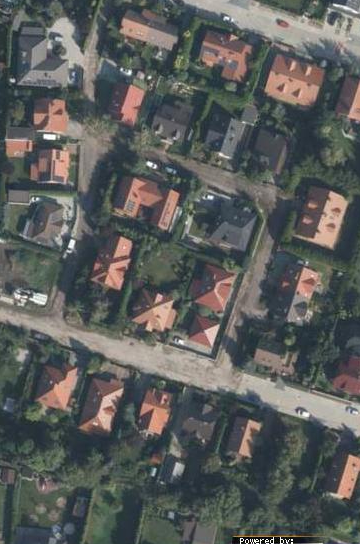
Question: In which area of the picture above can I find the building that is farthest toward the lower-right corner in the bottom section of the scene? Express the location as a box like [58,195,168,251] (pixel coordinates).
[323,453,360,500]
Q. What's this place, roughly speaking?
residential area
